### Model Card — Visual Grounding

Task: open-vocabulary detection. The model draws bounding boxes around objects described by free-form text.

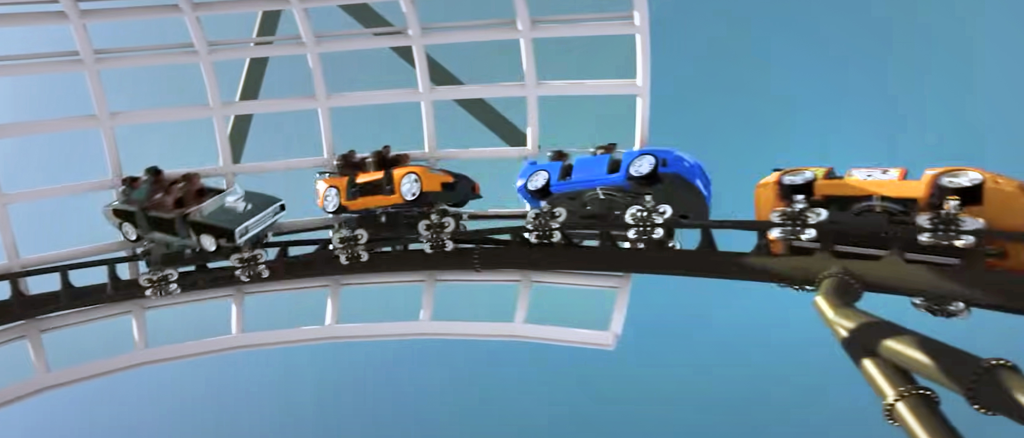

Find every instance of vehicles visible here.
[750,167,1024,337]
[319,159,486,260]
[105,178,290,294]
[520,148,715,250]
